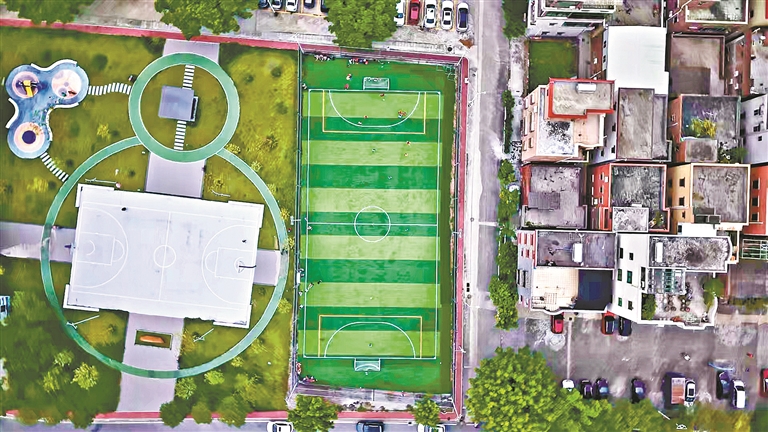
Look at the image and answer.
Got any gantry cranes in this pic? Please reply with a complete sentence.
No, no gantry crane is visible in the scene.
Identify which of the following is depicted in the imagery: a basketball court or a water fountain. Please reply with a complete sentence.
Visible in the photo is a basketball court.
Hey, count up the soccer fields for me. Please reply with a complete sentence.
In total, 1 soccer field can be seen.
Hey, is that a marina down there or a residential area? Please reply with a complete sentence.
This looks like a residential area.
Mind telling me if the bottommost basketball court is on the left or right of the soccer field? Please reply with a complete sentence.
Looking at the photo, the bottommost basketball court lies to the left of the soccer field.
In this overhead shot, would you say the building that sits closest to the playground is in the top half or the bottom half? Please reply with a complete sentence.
The top half of the photo is where the building that sits closest to the playground is.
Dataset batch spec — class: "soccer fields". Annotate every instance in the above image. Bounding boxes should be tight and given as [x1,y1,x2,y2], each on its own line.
[297,53,457,395]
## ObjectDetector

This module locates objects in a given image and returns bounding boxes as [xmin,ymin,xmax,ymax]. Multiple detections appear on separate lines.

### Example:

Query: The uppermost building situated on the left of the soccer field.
[158,86,201,124]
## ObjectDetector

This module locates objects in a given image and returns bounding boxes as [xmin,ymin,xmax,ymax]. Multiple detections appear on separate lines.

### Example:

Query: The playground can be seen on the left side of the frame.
[5,58,88,158]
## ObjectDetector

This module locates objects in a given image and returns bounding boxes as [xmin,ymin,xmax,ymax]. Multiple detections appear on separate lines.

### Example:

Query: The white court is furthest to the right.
[68,188,261,326]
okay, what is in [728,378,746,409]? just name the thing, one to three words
vehicle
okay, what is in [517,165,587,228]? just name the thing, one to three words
house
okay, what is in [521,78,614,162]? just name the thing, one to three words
house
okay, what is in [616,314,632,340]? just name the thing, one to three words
car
